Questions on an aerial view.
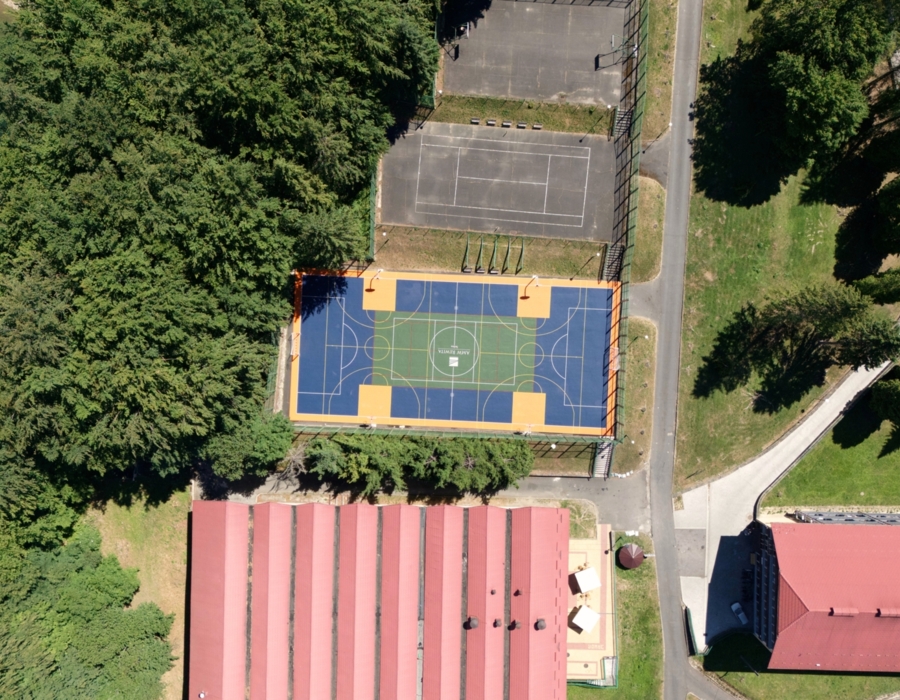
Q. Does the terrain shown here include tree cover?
Yes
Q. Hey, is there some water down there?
No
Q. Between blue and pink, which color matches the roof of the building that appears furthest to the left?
pink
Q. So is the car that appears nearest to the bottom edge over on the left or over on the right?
right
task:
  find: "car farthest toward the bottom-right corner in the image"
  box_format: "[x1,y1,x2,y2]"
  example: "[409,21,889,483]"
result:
[729,601,751,629]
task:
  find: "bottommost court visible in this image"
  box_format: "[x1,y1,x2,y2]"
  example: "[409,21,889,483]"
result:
[290,272,621,437]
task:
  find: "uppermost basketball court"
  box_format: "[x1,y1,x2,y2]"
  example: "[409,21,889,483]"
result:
[444,0,626,106]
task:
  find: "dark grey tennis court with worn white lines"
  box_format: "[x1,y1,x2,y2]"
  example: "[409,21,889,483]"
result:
[379,120,616,241]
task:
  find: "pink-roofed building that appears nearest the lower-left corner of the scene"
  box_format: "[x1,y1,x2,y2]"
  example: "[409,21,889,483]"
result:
[189,500,570,700]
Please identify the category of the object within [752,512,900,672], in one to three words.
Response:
building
